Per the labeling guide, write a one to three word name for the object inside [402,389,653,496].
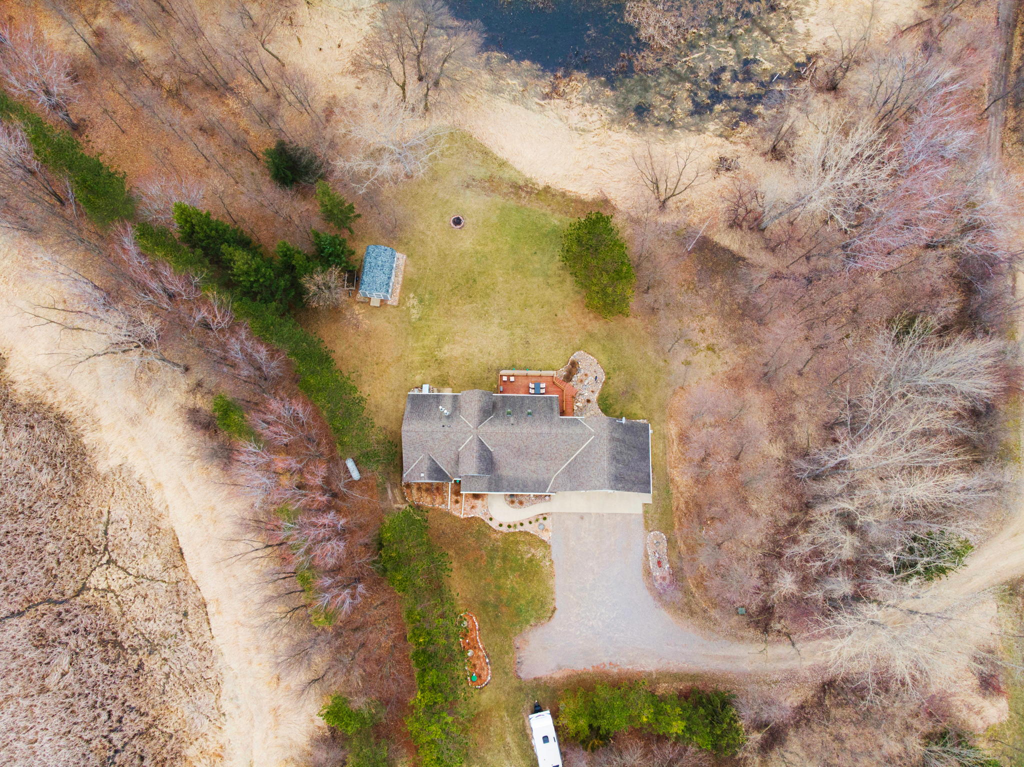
house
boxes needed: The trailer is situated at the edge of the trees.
[528,695,563,767]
